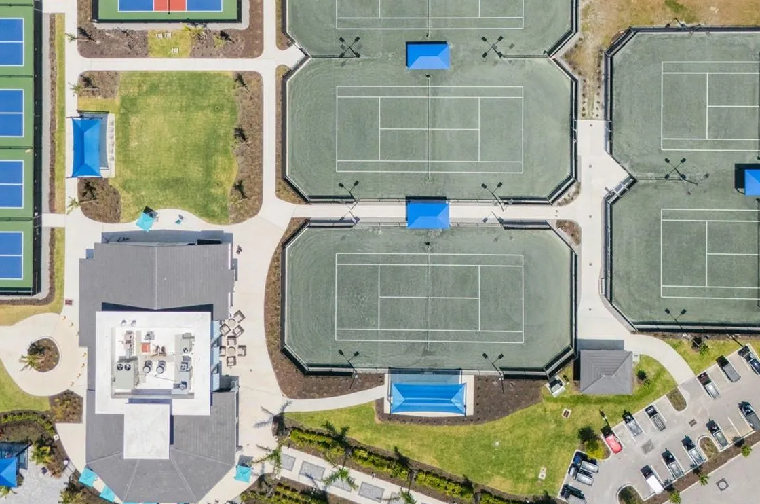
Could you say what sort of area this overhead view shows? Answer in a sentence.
What you see here is a sports ground.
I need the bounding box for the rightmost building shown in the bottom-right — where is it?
[580,346,633,394]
